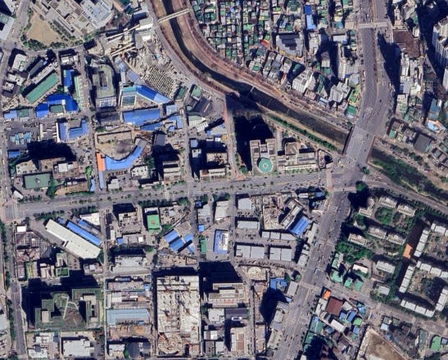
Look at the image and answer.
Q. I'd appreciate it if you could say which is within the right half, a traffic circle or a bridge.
bridge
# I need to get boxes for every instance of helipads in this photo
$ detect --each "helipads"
[258,157,274,173]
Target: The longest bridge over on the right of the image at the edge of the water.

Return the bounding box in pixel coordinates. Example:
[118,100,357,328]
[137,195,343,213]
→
[340,113,385,170]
